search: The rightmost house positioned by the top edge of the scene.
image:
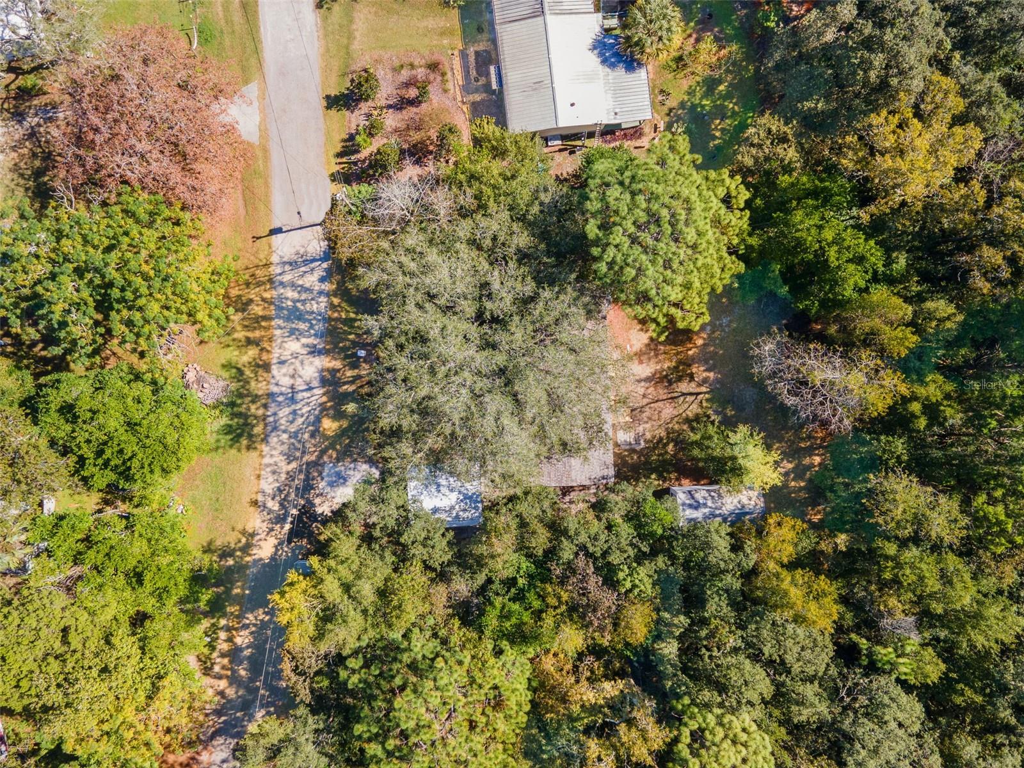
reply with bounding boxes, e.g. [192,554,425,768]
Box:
[488,0,650,138]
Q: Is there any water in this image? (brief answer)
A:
No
